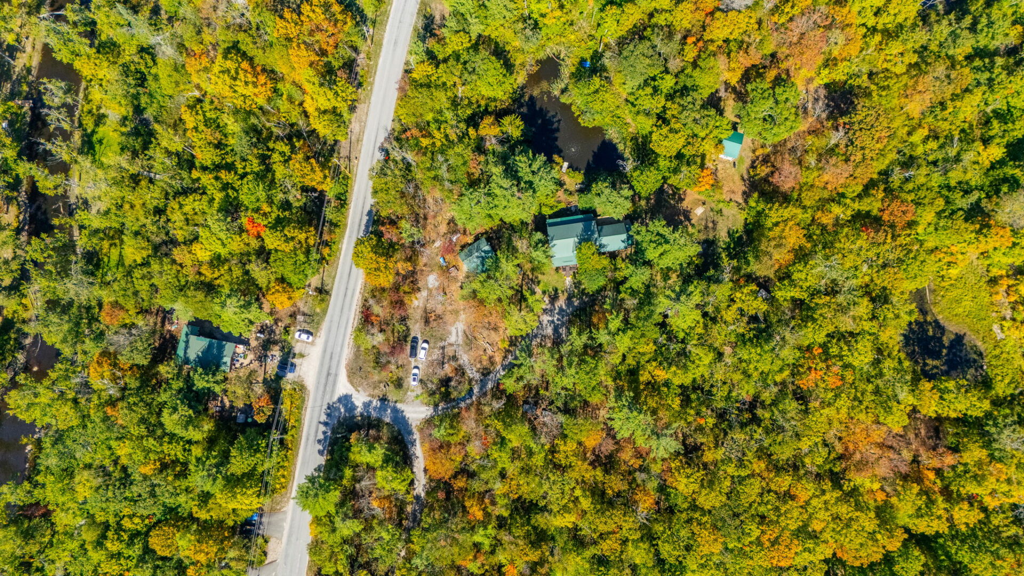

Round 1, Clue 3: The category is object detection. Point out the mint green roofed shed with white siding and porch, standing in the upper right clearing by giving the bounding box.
[714,130,743,163]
